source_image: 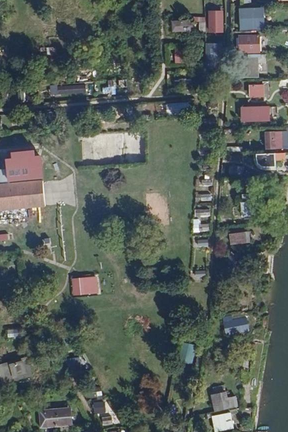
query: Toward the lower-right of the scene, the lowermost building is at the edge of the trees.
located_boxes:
[212,413,234,432]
